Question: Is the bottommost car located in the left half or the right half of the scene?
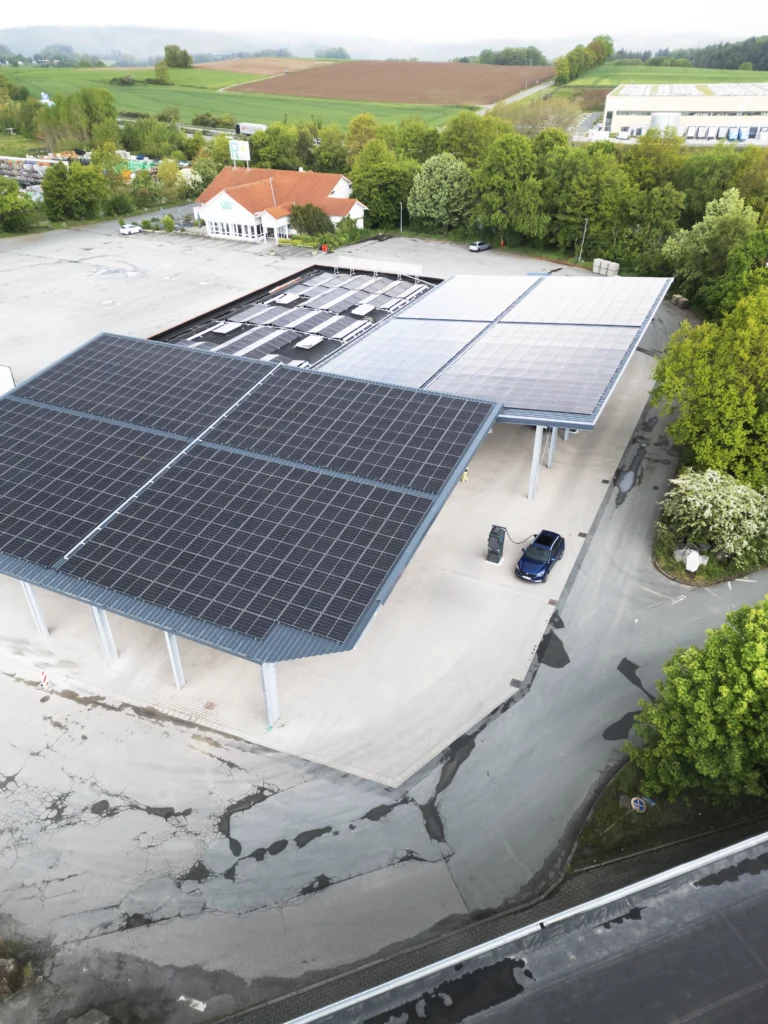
right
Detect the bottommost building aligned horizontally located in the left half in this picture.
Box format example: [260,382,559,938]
[155,265,441,371]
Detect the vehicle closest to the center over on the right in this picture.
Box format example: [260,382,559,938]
[515,524,564,582]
